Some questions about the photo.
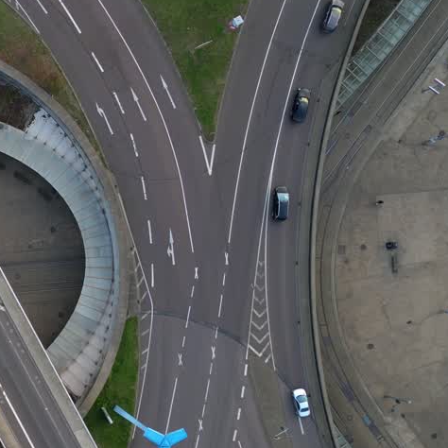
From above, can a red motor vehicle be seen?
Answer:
No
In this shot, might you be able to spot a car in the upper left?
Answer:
No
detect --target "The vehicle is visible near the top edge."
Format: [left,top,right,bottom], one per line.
[319,0,343,32]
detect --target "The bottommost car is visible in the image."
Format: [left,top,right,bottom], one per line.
[290,388,311,418]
